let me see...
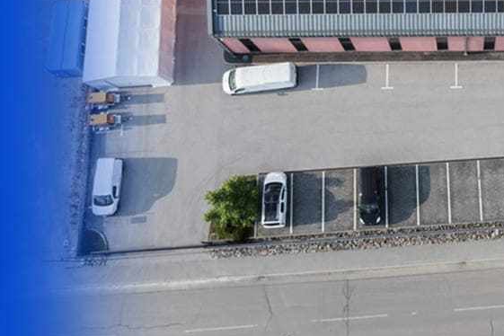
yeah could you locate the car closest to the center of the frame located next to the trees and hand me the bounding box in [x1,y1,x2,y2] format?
[261,171,288,230]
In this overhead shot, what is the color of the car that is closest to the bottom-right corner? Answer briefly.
black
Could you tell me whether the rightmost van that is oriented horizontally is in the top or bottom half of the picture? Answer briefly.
top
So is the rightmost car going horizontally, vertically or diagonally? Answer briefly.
vertically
